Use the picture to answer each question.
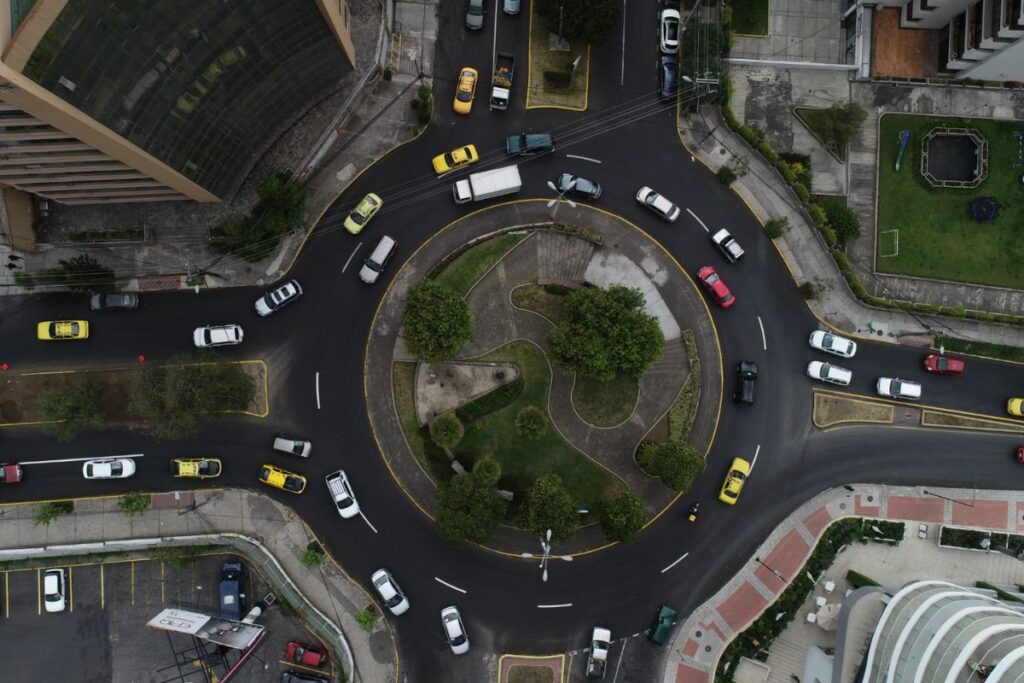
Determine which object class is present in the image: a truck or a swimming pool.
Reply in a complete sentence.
The image shows a truck.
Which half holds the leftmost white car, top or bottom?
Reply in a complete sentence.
The bottom half of the photo is where the leftmost white car is.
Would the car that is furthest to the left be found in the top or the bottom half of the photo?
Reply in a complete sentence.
The car that is furthest to the left is in the bottom half of the image.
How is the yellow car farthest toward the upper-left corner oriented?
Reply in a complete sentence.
In this picture, the yellow car farthest toward the upper-left corner lies from side to side.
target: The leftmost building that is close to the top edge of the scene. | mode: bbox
[0,0,357,203]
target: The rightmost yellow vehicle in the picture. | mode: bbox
[1004,396,1024,418]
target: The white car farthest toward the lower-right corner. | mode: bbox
[876,375,923,399]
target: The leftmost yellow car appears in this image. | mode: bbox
[40,318,90,341]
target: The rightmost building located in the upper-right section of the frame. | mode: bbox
[903,0,1024,83]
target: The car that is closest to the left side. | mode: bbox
[0,462,23,486]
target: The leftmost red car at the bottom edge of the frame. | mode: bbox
[285,639,331,670]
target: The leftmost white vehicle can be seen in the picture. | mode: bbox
[42,568,69,611]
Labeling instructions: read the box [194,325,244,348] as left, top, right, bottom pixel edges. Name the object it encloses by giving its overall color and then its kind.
white car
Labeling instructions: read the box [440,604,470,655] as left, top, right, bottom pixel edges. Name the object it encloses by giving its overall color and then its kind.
white car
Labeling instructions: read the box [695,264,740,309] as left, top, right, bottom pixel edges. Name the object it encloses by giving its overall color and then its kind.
red car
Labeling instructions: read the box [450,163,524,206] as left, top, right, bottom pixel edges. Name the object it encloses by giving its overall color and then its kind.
white truck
